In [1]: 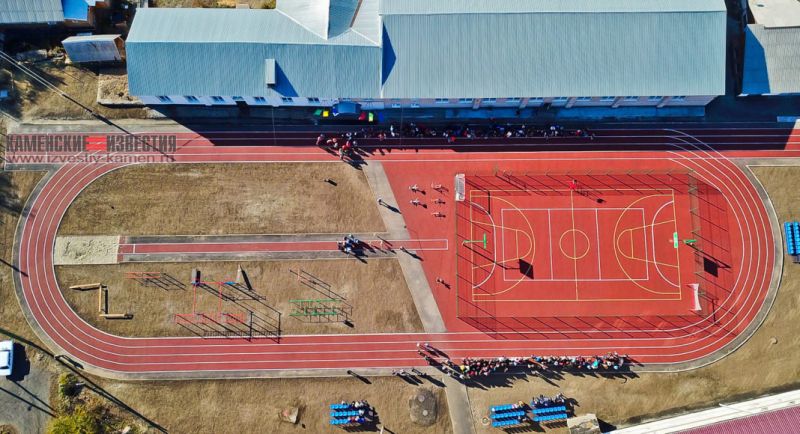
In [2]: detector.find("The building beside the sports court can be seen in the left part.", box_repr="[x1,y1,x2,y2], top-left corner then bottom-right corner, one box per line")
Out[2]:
[125,0,385,125]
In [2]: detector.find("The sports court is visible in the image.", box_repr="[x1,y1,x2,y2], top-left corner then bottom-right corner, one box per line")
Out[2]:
[455,174,699,317]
